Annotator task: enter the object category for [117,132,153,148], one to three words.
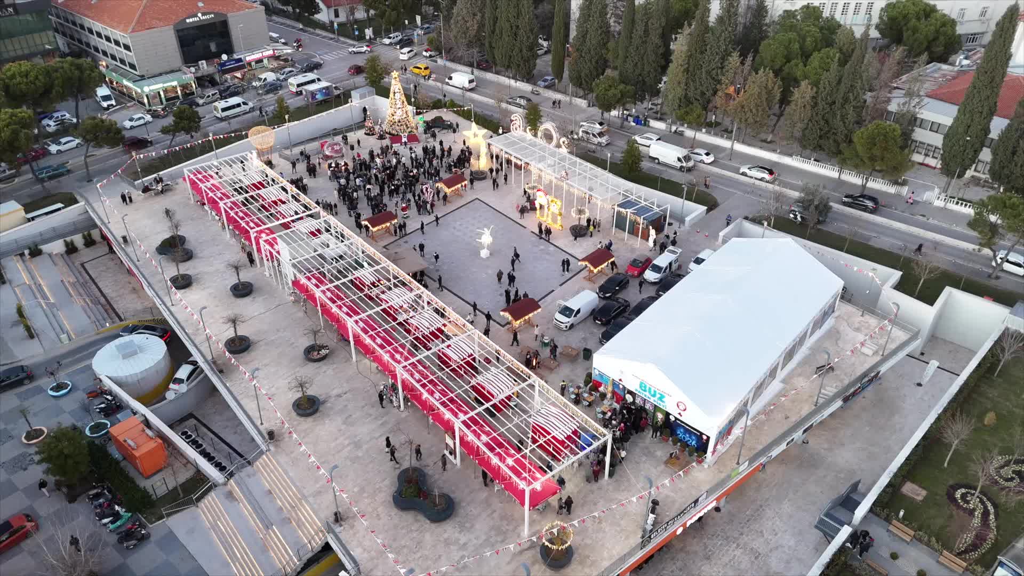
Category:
car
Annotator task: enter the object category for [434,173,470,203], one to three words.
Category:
shed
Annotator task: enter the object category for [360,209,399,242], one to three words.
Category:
shed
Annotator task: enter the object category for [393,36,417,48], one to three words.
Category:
vehicle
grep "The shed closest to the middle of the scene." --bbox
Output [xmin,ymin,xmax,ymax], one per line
[496,292,545,332]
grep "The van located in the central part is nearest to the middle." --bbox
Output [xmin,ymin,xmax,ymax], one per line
[553,284,604,330]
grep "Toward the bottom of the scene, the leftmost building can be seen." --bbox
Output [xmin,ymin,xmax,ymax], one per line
[90,335,177,412]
